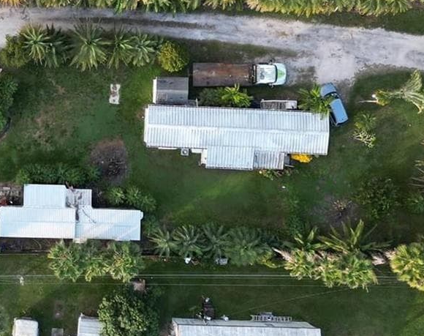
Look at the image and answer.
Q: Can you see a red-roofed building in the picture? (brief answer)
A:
No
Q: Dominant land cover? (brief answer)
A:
grass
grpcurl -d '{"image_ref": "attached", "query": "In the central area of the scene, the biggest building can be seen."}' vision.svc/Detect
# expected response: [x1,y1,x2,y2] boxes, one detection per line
[143,104,331,168]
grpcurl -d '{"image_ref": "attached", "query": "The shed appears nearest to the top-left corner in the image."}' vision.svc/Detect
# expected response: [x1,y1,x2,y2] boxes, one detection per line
[152,78,190,103]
